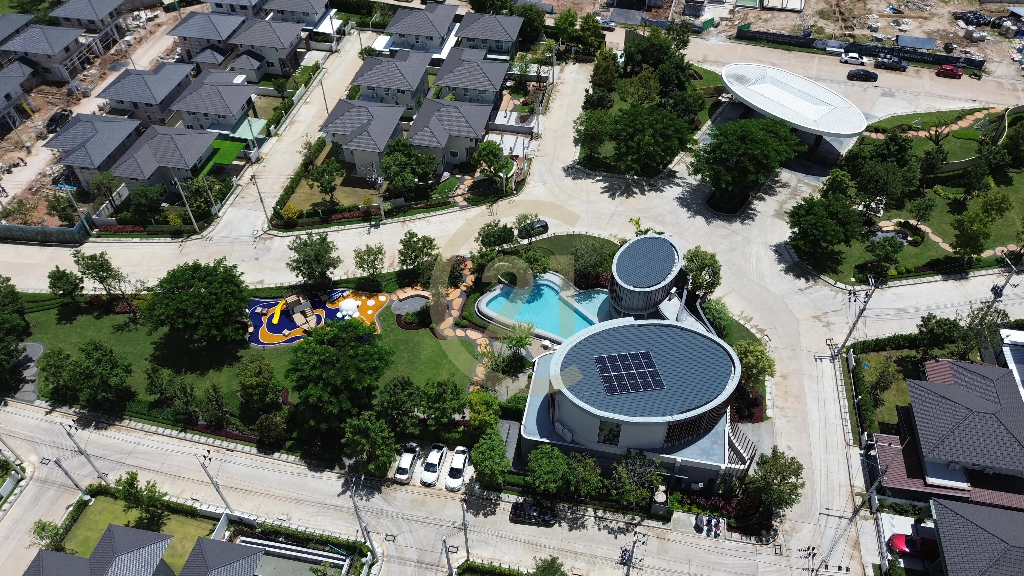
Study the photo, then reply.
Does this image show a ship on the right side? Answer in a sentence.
No, I see no ship on the right side.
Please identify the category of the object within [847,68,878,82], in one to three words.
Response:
car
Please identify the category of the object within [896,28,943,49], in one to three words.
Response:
shed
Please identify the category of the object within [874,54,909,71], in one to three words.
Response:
vehicle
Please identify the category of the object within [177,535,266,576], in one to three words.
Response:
house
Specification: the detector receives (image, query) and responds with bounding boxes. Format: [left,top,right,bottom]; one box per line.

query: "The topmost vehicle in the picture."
[595,14,620,29]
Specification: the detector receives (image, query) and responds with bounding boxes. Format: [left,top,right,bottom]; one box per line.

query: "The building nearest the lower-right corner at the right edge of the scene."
[885,497,1024,576]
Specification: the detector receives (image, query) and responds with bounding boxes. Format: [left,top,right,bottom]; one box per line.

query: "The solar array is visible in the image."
[593,351,666,394]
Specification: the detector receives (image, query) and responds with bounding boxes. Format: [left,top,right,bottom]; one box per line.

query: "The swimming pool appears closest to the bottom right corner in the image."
[474,271,611,351]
